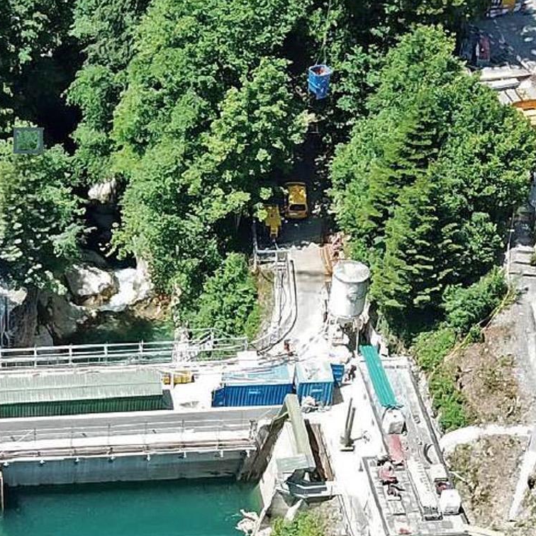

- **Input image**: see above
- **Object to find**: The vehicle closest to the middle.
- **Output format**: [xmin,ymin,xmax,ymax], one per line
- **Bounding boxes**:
[282,178,308,216]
